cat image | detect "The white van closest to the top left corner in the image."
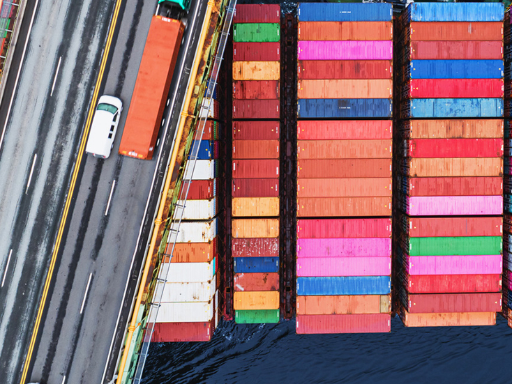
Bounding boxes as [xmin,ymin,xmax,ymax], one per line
[85,94,124,161]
